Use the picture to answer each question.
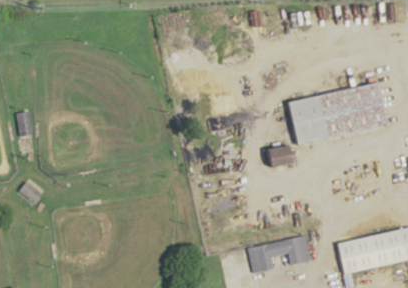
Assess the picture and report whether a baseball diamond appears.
Yes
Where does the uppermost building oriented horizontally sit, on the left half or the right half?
right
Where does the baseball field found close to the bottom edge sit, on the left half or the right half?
left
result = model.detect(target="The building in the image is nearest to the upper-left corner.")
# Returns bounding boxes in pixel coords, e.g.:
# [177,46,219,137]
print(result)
[16,110,32,136]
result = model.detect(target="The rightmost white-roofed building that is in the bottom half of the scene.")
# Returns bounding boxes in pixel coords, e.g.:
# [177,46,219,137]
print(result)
[338,229,408,288]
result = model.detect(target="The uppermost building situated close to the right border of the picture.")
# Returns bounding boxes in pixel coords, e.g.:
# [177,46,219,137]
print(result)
[289,83,388,144]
